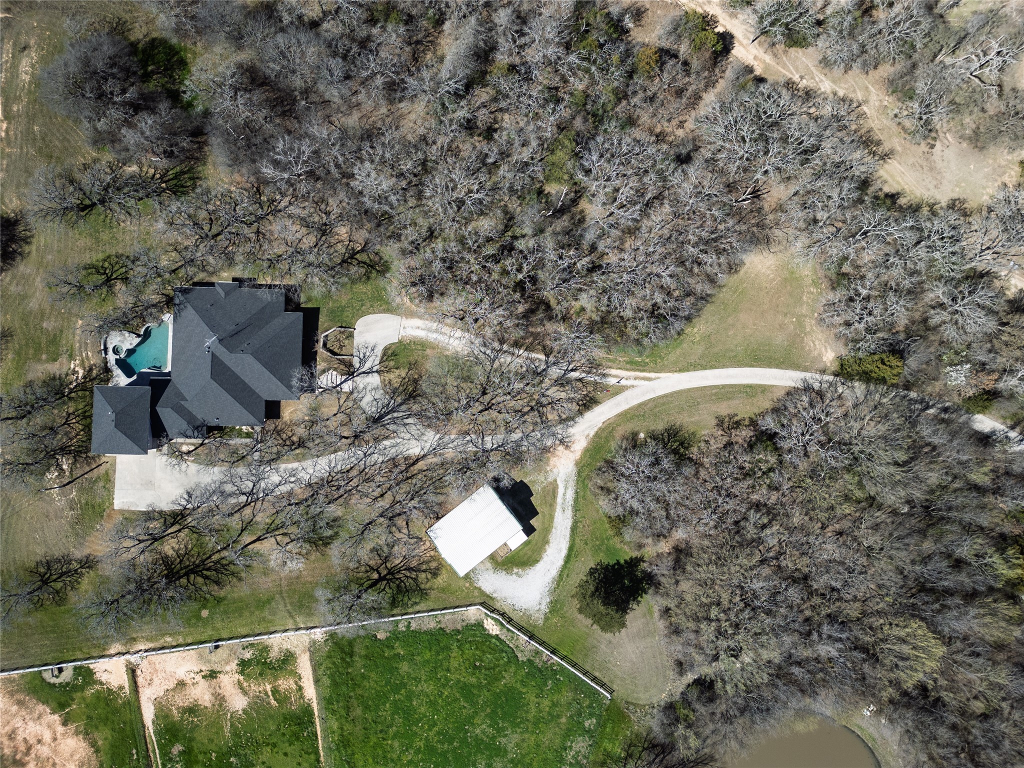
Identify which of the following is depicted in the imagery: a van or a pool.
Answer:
pool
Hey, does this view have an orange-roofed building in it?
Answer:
No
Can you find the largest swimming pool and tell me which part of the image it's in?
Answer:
left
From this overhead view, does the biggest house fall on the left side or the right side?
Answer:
left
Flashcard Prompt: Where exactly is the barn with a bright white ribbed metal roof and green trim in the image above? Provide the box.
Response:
[426,483,528,576]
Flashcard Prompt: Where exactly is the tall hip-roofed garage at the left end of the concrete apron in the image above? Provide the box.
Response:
[91,385,159,455]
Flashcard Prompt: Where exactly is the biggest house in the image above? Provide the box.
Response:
[155,282,305,439]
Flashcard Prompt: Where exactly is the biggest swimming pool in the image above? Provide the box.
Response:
[113,318,171,381]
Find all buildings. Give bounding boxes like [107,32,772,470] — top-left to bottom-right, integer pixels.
[155,282,305,439]
[426,483,528,576]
